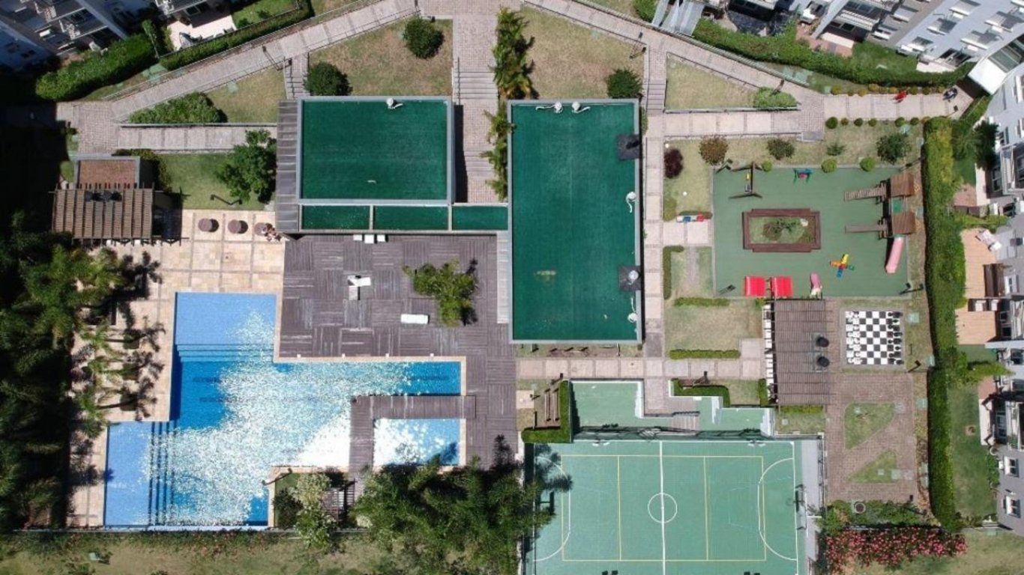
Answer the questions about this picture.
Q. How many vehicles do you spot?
0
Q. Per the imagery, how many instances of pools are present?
1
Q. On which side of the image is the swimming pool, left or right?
left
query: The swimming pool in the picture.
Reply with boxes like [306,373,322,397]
[78,293,465,531]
